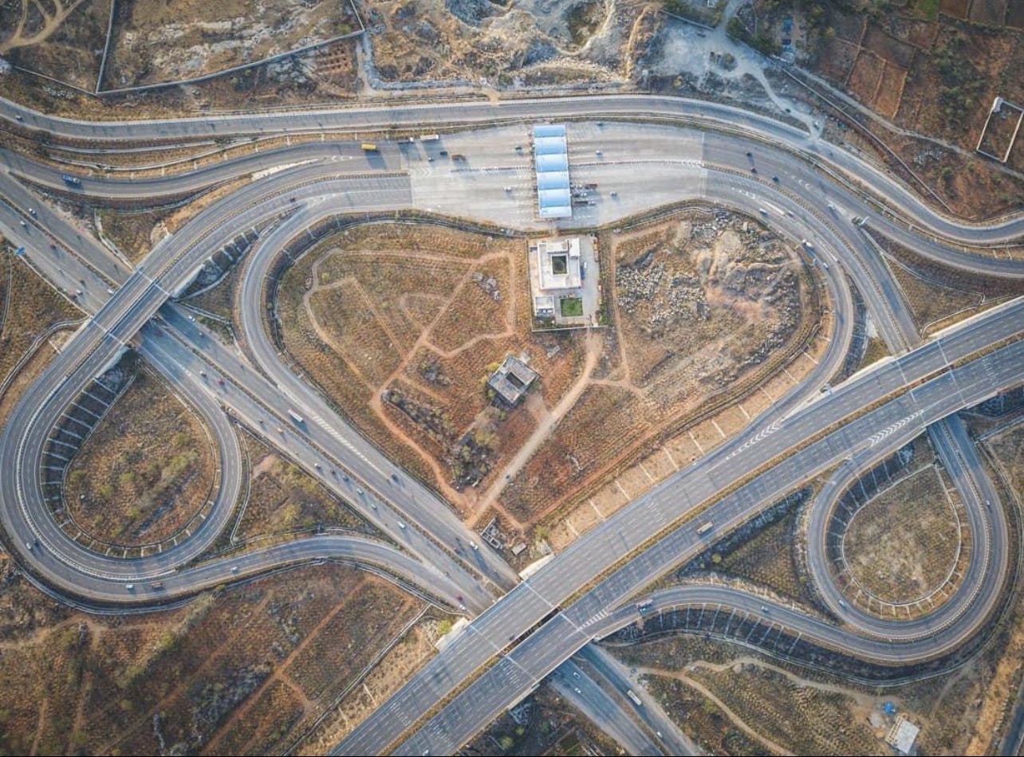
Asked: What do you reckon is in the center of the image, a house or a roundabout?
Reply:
house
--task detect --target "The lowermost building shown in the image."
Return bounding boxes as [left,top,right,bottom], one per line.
[883,714,920,753]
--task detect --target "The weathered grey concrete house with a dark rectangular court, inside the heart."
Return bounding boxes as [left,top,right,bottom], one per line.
[488,353,538,403]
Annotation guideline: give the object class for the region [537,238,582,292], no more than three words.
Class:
building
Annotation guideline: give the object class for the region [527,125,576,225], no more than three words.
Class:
toll station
